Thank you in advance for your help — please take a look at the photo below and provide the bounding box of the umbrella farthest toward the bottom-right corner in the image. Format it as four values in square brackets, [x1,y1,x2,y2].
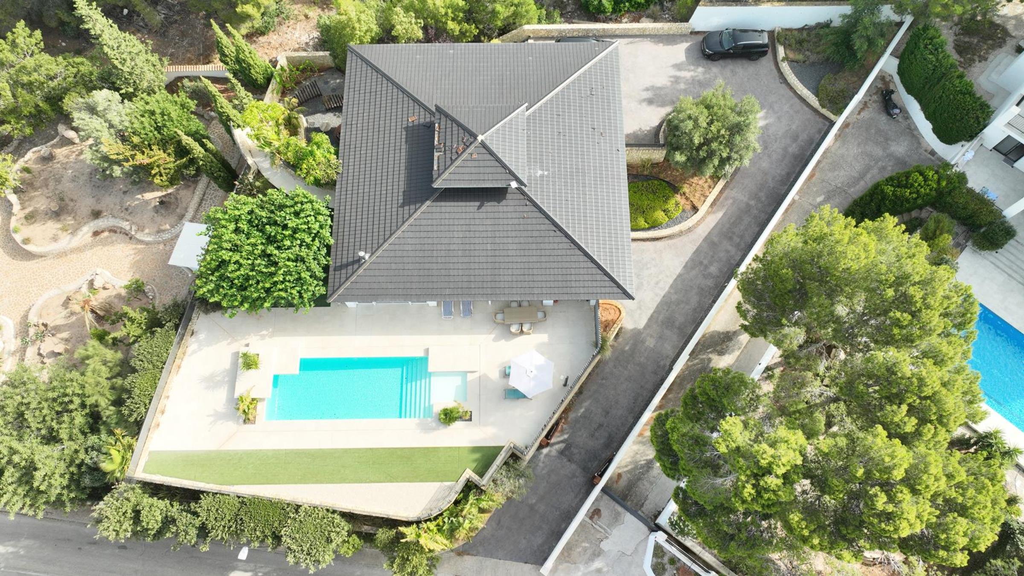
[510,350,554,398]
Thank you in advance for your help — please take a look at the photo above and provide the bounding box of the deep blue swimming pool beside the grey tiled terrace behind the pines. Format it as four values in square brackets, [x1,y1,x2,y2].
[944,296,1024,440]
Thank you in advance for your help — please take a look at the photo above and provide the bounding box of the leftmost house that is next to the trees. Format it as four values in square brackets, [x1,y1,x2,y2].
[326,38,637,306]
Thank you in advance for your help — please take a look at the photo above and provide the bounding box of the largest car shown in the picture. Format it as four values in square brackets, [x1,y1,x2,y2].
[701,26,772,64]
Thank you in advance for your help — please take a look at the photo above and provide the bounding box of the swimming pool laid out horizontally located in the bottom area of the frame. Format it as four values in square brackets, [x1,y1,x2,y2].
[265,357,467,420]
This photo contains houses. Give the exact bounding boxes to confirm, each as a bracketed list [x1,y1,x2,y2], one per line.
[326,38,637,306]
[984,77,1024,179]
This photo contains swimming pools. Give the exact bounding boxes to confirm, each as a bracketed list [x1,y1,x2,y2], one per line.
[265,357,467,420]
[944,296,1024,440]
